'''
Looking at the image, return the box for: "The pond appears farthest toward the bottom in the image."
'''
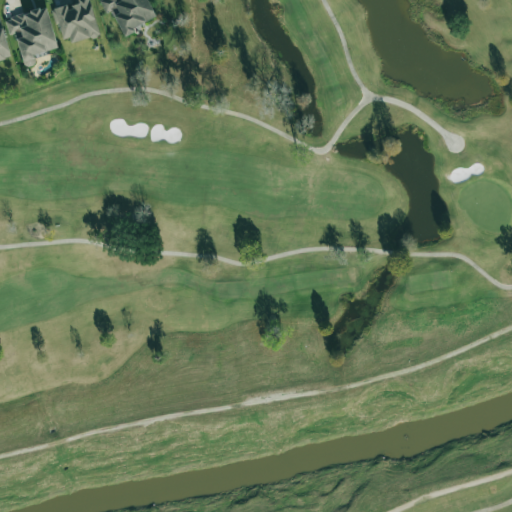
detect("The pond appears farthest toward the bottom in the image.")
[331,262,396,354]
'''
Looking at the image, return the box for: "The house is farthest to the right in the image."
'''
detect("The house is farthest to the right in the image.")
[107,0,156,36]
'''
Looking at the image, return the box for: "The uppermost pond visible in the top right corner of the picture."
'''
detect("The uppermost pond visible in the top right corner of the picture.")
[361,0,491,104]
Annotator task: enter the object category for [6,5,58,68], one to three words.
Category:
house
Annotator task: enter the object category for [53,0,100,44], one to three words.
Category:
house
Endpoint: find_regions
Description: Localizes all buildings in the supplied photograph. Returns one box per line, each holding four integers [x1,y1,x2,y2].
[6,5,58,68]
[107,0,156,36]
[0,26,12,63]
[53,0,100,44]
